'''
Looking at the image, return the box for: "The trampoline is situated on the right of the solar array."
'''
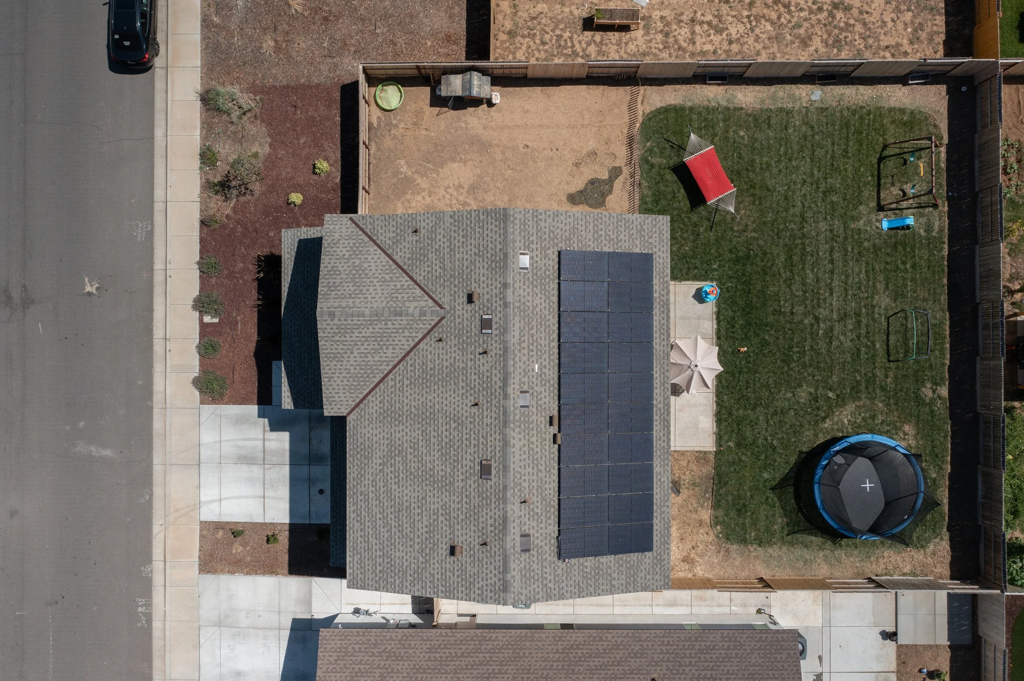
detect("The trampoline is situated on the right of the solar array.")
[807,431,942,551]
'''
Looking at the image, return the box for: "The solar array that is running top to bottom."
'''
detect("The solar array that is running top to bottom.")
[556,248,655,565]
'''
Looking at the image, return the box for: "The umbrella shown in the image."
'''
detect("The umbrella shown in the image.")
[671,335,723,394]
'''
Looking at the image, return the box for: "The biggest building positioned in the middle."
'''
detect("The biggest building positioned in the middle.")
[282,206,671,606]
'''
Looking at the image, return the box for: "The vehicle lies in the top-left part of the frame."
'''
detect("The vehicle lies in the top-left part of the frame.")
[109,0,164,70]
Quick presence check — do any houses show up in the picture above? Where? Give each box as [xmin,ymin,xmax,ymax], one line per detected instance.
[316,613,804,681]
[282,206,671,606]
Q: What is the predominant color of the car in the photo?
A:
black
